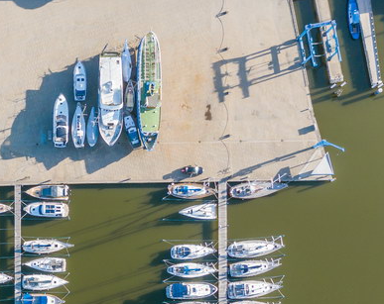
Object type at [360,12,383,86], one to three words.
pier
